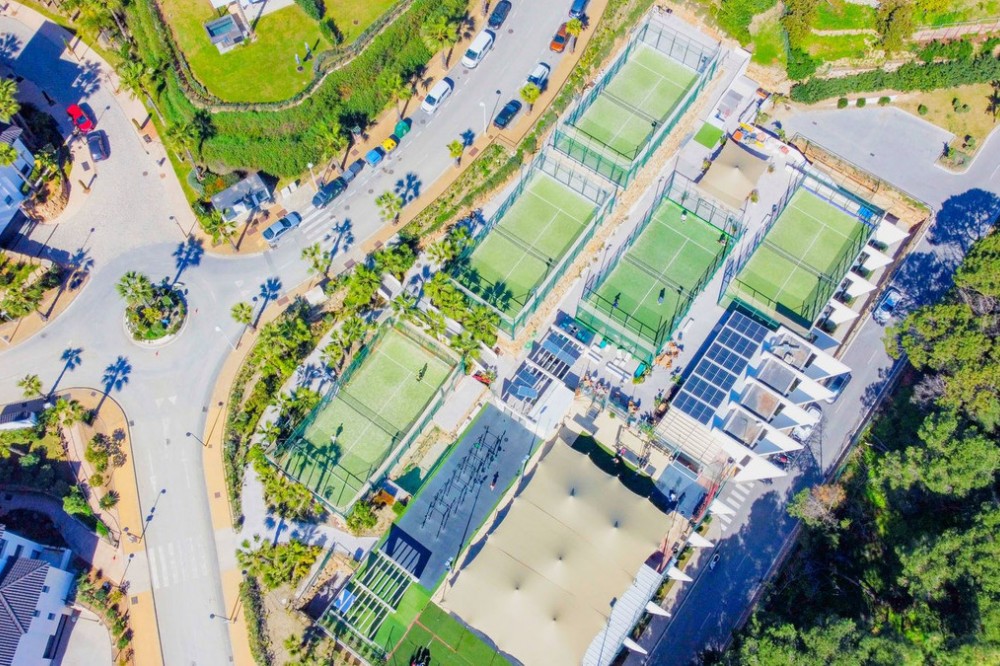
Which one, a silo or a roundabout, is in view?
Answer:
roundabout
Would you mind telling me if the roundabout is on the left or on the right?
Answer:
left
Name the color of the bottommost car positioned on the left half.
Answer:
blue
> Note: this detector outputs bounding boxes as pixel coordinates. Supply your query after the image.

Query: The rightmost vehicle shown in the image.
[875,286,905,321]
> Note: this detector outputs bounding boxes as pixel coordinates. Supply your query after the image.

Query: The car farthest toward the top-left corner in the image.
[62,101,92,132]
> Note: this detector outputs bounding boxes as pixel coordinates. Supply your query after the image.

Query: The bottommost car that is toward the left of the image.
[261,210,300,240]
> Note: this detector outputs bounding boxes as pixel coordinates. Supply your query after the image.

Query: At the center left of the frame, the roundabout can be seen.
[122,280,191,347]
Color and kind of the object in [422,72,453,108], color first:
white car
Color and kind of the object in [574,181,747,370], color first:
green sports court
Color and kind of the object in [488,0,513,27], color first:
blue car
